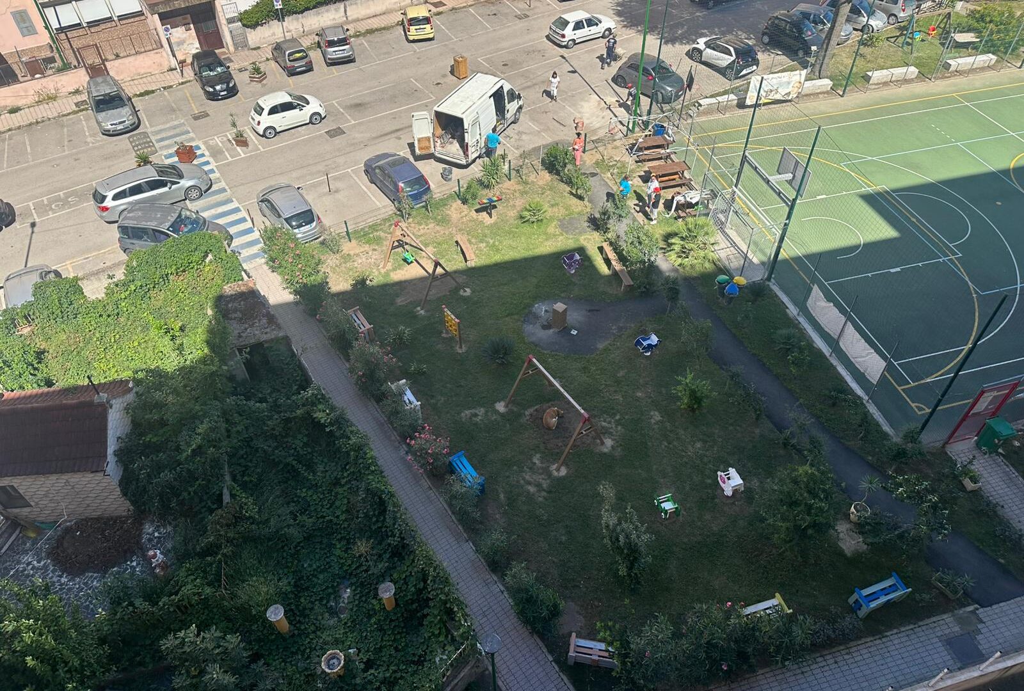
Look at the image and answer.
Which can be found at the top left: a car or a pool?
car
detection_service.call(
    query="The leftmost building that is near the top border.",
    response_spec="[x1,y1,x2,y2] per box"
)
[0,0,158,87]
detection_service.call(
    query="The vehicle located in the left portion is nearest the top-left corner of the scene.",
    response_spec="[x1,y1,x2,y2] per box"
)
[86,71,138,135]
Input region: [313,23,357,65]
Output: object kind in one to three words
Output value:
car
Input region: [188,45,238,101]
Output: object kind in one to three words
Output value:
car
